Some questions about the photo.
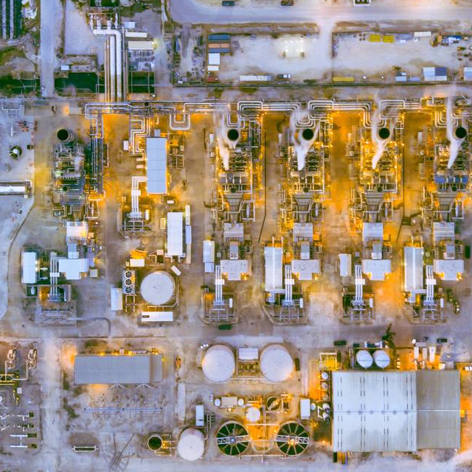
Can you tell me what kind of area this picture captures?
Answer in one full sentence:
This looks like an industrial area.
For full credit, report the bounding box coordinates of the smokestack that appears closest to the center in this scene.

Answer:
[226,127,241,147]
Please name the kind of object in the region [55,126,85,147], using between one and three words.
chimney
